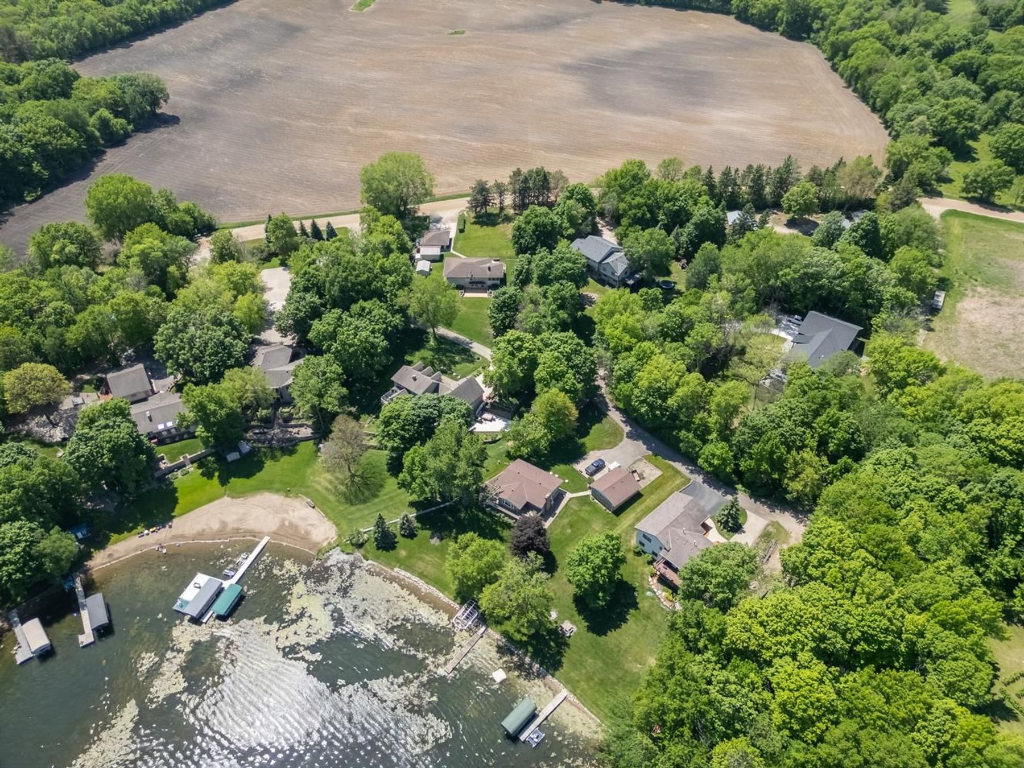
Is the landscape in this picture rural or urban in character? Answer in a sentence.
From above, the setting appears rural.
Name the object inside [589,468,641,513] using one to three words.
building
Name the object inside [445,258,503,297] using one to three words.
house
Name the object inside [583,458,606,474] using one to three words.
vehicle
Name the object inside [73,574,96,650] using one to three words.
pier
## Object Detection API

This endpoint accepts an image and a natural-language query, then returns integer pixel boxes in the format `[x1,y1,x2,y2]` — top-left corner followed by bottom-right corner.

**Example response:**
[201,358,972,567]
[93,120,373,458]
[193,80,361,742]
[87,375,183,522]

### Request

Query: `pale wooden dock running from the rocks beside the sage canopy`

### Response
[518,689,569,743]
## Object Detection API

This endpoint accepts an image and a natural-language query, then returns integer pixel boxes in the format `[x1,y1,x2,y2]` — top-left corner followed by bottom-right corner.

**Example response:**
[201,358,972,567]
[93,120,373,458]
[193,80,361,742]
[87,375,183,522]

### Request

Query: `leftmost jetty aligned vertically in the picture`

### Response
[5,606,38,668]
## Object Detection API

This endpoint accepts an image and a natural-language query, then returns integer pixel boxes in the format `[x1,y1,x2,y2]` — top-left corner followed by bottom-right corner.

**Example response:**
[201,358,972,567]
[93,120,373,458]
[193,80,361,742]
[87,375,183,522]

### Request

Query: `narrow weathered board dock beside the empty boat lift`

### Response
[443,626,486,676]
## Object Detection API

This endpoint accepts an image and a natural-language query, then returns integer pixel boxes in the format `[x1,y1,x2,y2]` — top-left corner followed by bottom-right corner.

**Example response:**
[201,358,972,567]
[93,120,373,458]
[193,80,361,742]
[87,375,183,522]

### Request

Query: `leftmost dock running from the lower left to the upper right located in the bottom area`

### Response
[199,537,271,623]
